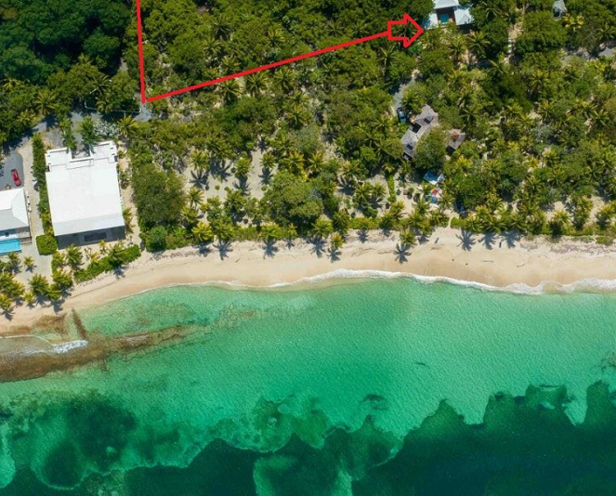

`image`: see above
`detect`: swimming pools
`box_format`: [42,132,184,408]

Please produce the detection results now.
[439,11,450,23]
[0,238,22,254]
